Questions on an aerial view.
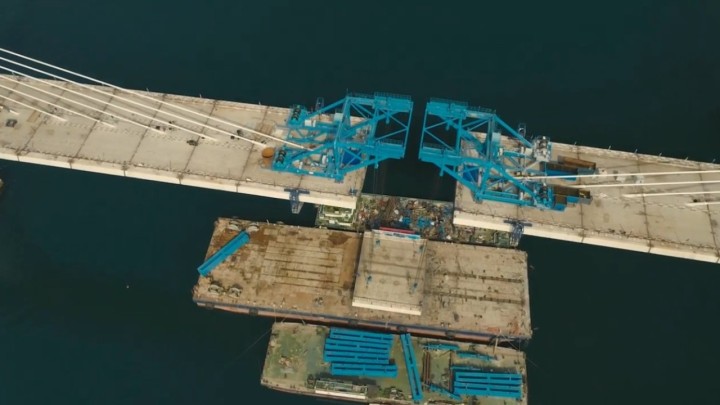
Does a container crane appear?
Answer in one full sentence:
Yes, the frame does contain a container crane.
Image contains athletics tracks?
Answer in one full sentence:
No, no athletics track can be seen from above.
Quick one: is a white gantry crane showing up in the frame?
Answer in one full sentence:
No, no white gantry crane is visible in the view.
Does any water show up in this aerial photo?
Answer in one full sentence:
Yes, there is water in the image.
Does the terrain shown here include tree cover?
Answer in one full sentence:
No, the scene doesn't show any tree cover.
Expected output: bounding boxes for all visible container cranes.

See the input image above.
[266,87,411,226]
[420,94,560,235]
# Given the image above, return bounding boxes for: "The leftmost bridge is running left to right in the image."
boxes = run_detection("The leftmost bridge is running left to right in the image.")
[0,48,378,212]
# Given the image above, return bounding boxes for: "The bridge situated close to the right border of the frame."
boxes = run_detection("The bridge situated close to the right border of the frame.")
[451,131,720,266]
